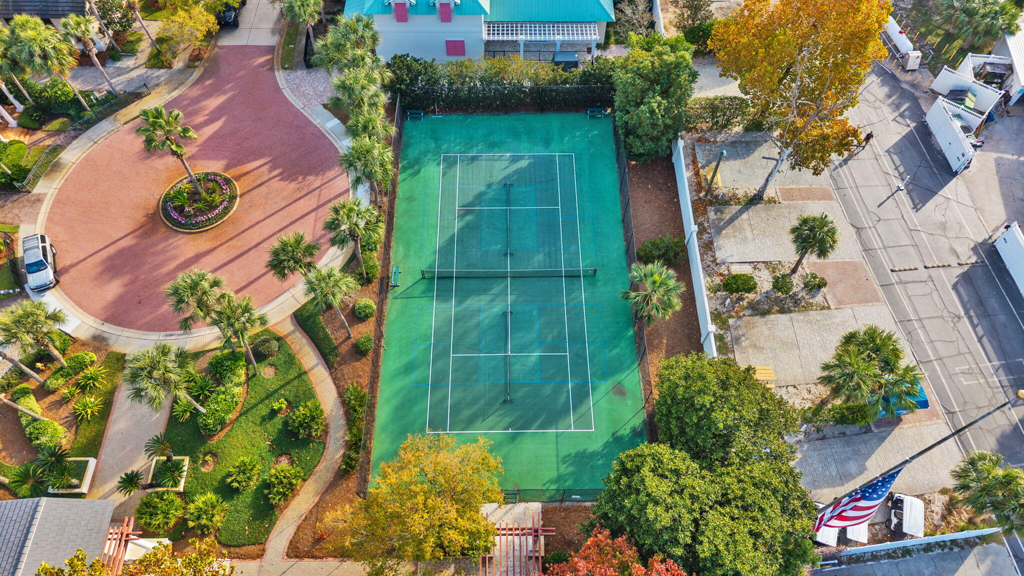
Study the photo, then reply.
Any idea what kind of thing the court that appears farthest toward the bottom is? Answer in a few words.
tennis court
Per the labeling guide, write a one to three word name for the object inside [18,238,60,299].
car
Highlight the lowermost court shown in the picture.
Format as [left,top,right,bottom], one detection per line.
[370,113,650,501]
